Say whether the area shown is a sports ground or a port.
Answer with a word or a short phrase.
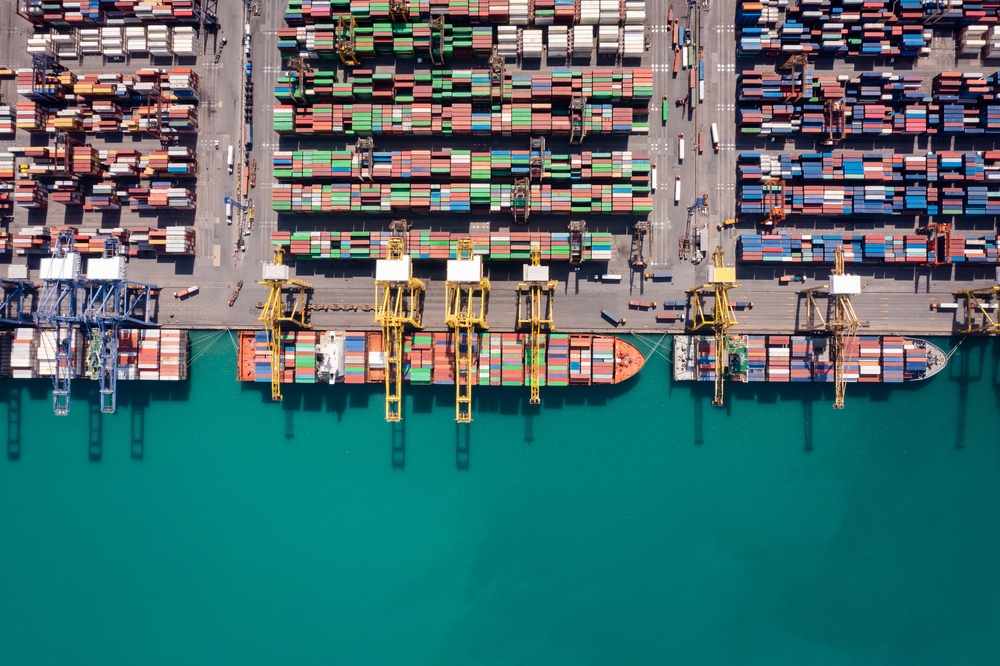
port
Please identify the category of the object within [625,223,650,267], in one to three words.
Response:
container crane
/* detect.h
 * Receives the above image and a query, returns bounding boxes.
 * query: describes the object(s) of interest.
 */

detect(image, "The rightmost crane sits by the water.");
[951,267,1000,327]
